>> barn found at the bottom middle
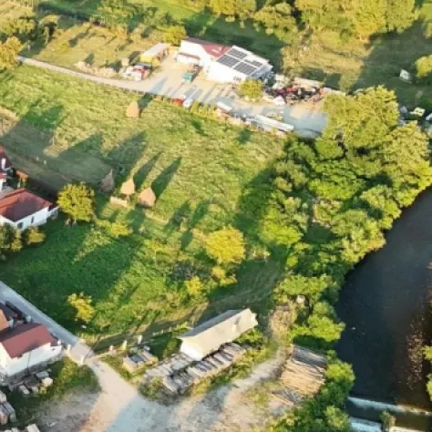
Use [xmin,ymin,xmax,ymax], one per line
[173,307,259,367]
